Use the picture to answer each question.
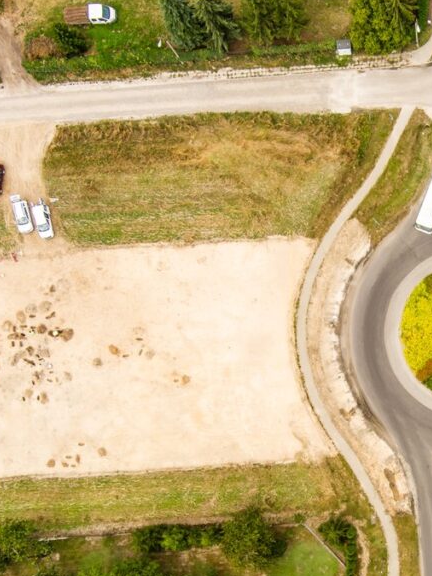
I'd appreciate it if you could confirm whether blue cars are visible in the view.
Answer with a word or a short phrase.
No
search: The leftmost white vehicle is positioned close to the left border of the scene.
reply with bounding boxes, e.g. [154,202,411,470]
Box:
[8,190,34,235]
